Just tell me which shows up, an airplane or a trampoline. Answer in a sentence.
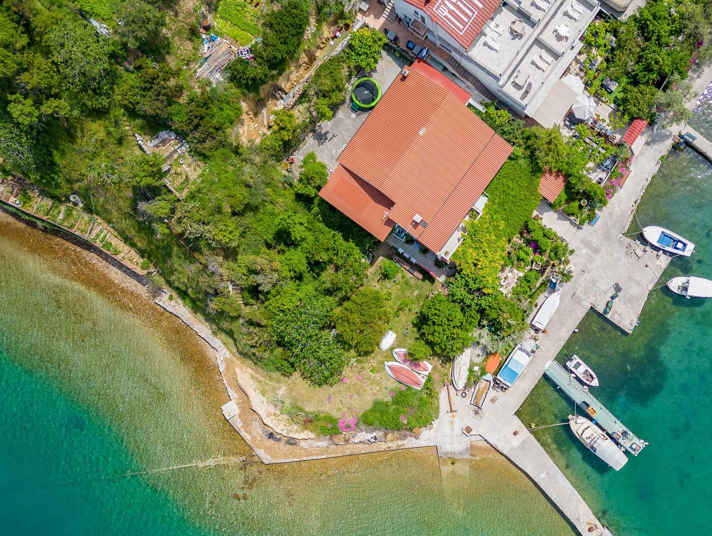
I can see a trampoline in this picture.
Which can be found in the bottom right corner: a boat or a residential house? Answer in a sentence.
There is a boat in the bottom right corner.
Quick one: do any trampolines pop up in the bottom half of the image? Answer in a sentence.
No, the scene shows no trampoline in the bottom half of the image.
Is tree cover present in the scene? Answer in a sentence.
Yes, there is tree cover in the image.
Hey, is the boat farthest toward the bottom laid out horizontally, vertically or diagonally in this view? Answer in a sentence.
The boat farthest toward the bottom has been laid out diagonally relative to the frame.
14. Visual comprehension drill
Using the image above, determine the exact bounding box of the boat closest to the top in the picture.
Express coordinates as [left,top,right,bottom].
[642,227,697,258]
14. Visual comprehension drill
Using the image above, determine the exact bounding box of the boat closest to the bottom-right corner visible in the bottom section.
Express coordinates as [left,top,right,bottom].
[566,418,630,474]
